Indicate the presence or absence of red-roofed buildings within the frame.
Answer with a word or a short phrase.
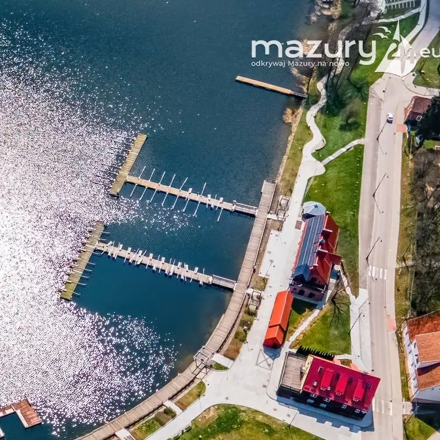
Yes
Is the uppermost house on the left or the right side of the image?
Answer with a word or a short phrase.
right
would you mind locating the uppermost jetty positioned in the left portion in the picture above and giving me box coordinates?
[92,134,257,223]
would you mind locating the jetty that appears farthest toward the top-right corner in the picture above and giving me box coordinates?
[236,77,308,98]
